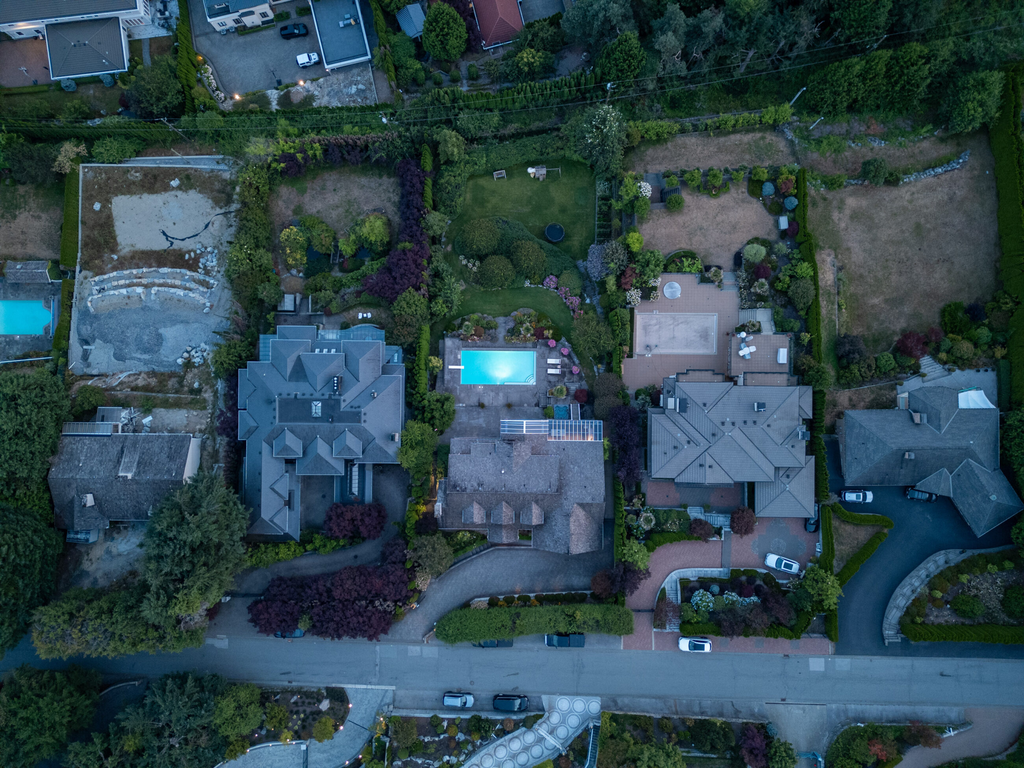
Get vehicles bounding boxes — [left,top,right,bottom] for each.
[903,486,940,505]
[839,488,874,505]
[443,690,475,709]
[274,625,306,641]
[473,632,514,651]
[802,503,820,535]
[493,693,529,712]
[764,553,801,575]
[677,636,712,653]
[290,50,324,71]
[544,631,586,650]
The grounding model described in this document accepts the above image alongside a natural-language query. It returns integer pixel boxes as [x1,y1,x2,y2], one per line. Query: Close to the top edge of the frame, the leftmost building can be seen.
[0,0,165,83]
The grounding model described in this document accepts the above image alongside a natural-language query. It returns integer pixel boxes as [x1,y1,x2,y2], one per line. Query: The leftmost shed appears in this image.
[1,260,58,283]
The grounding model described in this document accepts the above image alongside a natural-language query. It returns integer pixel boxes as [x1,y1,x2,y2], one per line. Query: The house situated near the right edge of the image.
[832,387,1024,538]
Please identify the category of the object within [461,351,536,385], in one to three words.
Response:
swimming pool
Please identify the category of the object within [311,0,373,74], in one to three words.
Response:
building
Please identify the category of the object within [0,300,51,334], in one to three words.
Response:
swimming pool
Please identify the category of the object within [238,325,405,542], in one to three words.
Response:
house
